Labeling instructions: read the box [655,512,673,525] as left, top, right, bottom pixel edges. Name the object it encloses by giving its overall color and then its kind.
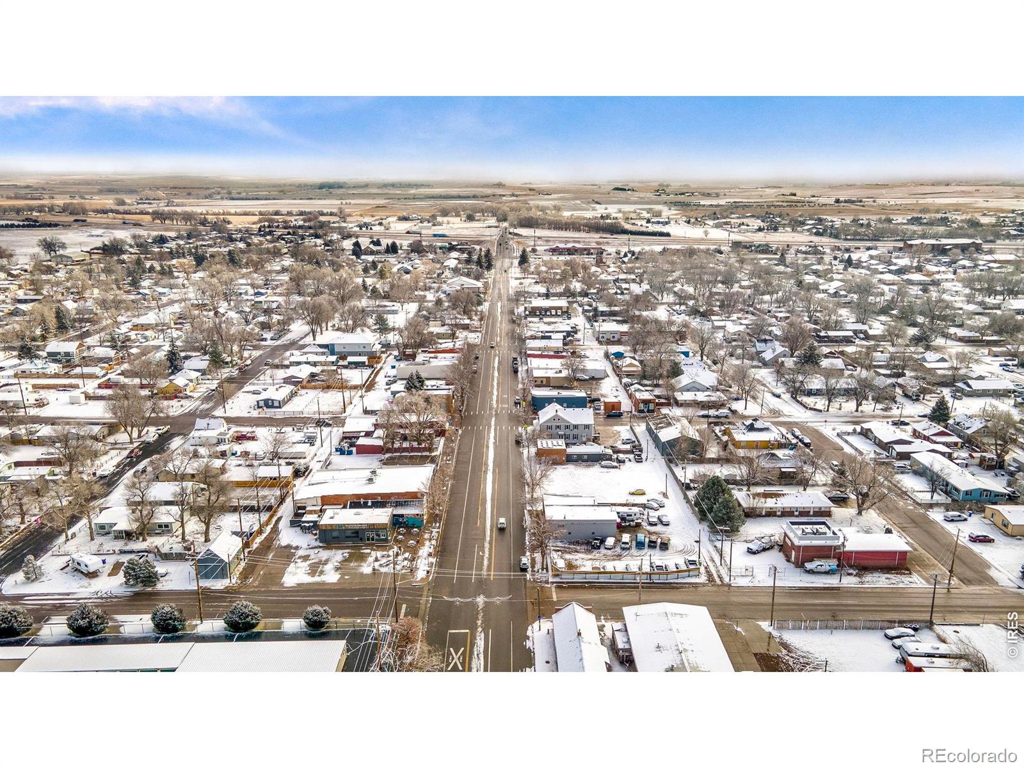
white vehicle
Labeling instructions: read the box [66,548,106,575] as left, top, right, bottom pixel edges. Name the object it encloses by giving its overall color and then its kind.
white vehicle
